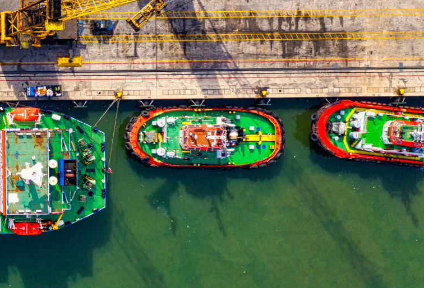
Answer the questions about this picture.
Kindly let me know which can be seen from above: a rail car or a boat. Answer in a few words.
boat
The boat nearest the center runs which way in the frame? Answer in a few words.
horizontally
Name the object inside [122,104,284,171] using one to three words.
boat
